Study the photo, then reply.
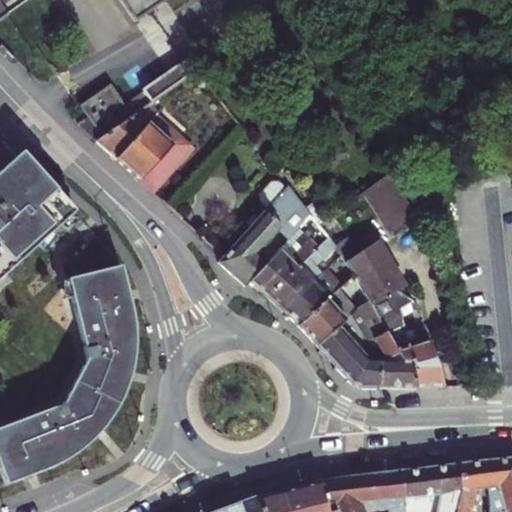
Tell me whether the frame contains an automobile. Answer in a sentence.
Yes, there is an automobile in the image.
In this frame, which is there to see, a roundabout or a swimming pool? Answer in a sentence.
Visible in the photo is a roundabout.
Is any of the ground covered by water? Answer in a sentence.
No, no water is visible.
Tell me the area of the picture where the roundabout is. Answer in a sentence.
The roundabout is located in the bottom region of the scene.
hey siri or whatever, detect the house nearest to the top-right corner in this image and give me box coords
[362,176,409,234]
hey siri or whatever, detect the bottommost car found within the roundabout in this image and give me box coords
[178,418,197,440]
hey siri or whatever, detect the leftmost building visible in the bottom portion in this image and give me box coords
[0,264,140,484]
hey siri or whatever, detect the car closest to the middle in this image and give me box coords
[146,219,164,240]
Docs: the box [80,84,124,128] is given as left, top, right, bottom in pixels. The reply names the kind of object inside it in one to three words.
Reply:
building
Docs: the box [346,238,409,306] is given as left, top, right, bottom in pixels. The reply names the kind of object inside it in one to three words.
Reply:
barn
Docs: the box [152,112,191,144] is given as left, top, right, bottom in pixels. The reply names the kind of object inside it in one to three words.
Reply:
shed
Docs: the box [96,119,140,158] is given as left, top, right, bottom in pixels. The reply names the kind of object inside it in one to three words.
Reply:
house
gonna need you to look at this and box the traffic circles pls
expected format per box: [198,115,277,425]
[162,324,316,478]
